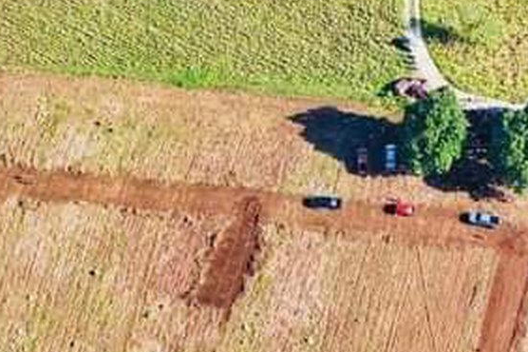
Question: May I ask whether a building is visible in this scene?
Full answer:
No, the scene contains no building.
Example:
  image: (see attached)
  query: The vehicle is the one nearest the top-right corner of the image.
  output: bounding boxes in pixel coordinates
[395,80,429,98]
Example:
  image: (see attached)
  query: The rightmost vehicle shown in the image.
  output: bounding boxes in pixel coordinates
[468,211,501,226]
